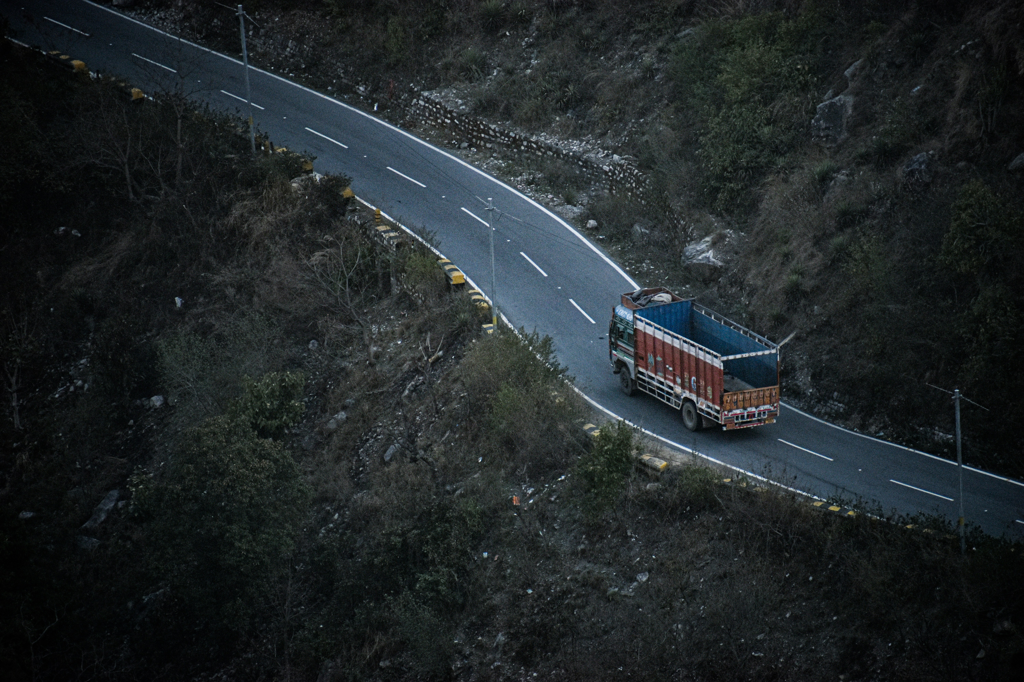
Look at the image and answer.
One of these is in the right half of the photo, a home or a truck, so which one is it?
truck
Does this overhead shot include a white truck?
No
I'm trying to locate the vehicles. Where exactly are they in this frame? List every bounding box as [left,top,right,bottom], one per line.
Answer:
[606,287,801,433]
